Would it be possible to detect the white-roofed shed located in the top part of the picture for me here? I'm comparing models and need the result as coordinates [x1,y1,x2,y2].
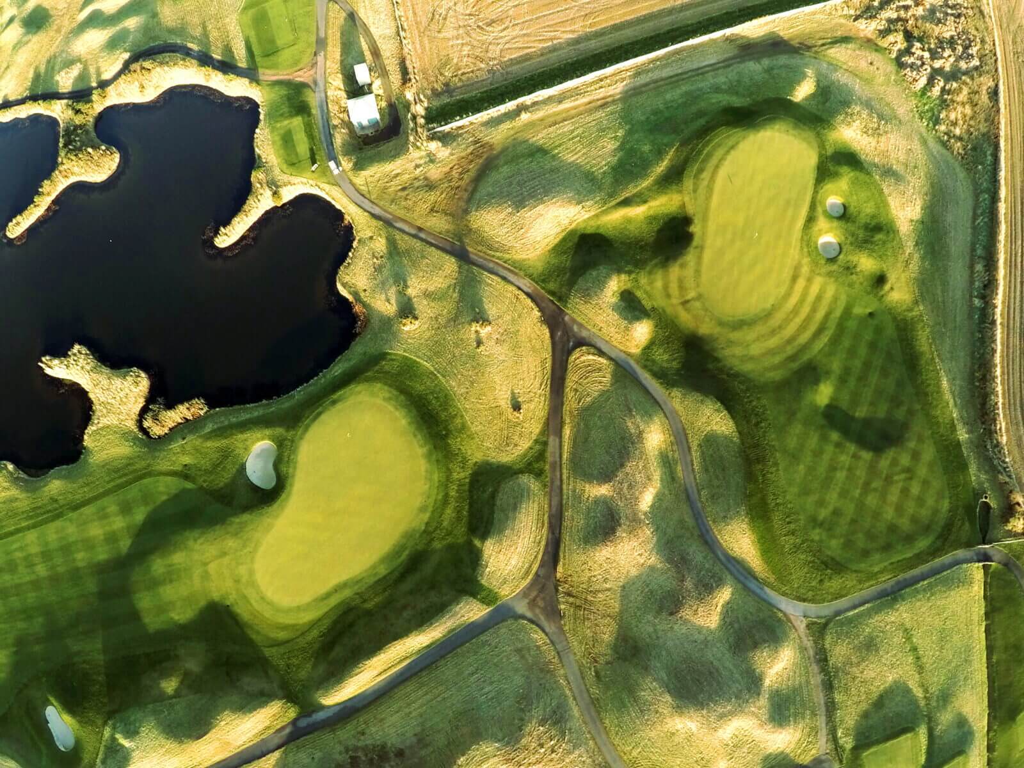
[346,95,383,135]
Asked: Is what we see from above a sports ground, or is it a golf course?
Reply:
golf course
